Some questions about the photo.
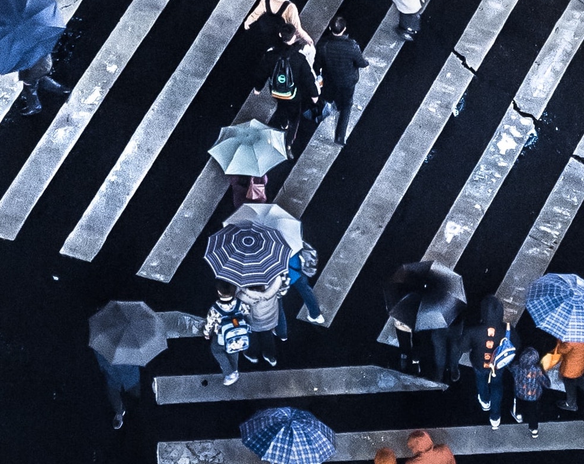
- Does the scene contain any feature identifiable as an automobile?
No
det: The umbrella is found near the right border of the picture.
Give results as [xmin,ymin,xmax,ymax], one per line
[523,272,584,346]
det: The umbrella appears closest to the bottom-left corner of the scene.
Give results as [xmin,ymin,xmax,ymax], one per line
[89,300,167,367]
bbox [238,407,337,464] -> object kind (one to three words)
umbrella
